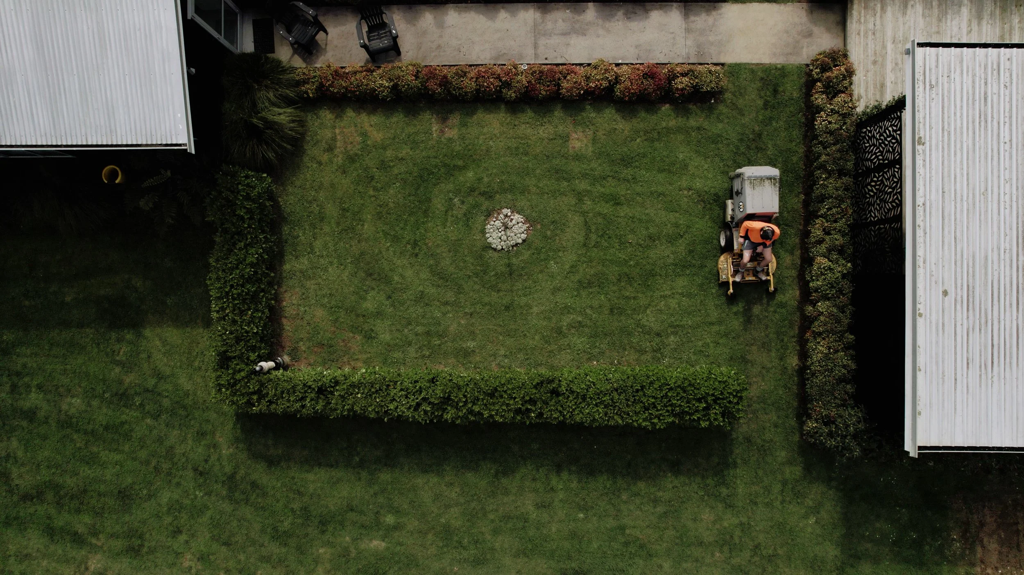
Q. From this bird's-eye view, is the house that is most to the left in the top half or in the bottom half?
top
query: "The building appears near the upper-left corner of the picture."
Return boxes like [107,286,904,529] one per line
[0,0,249,168]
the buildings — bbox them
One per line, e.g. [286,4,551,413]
[857,39,1024,458]
[0,0,249,168]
